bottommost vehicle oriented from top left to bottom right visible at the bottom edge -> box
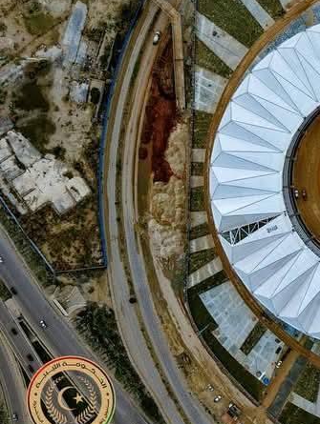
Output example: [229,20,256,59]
[226,403,241,418]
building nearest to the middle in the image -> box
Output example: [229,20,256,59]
[68,176,94,203]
